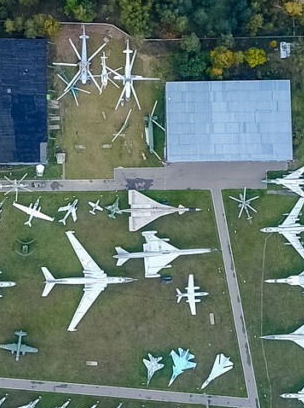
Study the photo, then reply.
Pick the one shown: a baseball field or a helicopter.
helicopter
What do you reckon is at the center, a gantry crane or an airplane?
airplane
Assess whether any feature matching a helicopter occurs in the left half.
Yes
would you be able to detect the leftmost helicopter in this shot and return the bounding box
[0,174,32,201]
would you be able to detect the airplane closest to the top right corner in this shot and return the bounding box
[264,165,304,199]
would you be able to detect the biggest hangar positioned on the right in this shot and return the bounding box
[163,80,293,163]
